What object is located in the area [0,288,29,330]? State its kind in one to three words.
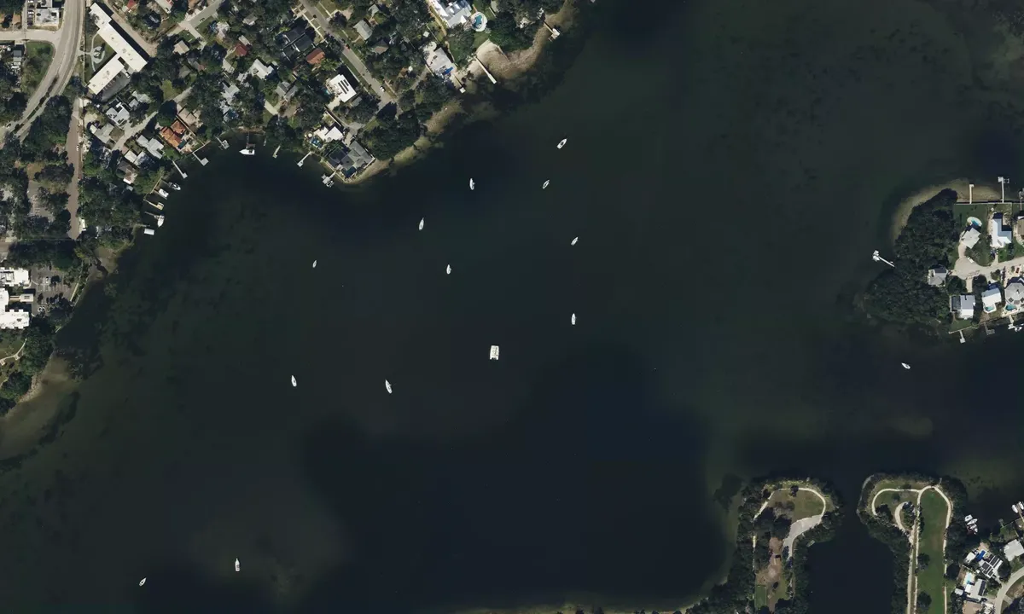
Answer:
building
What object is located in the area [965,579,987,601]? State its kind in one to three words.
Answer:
house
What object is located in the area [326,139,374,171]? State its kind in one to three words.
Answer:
house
